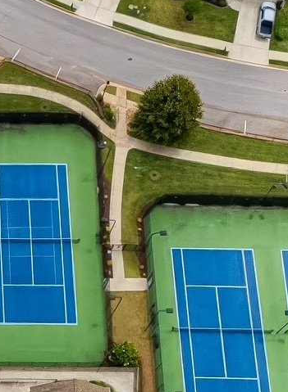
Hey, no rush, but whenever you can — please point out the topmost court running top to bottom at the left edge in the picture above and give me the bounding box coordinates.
[0,124,105,355]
